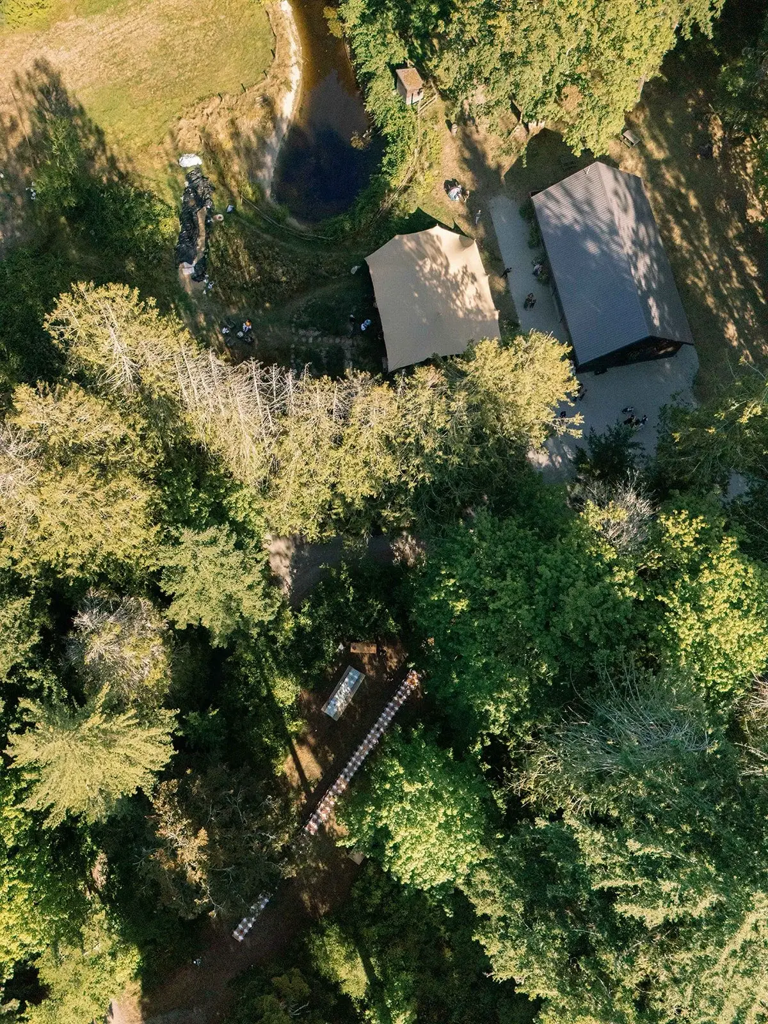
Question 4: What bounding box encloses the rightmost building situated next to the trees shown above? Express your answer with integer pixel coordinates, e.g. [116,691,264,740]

[530,160,697,373]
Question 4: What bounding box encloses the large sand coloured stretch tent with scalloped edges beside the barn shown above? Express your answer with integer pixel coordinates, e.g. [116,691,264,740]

[352,224,505,387]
